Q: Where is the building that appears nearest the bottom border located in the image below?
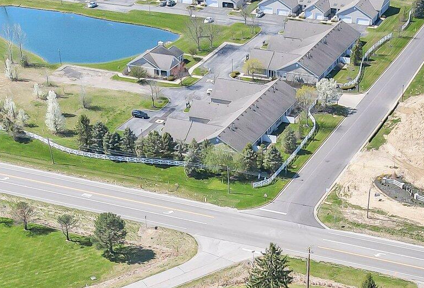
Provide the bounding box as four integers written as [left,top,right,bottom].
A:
[149,77,297,161]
